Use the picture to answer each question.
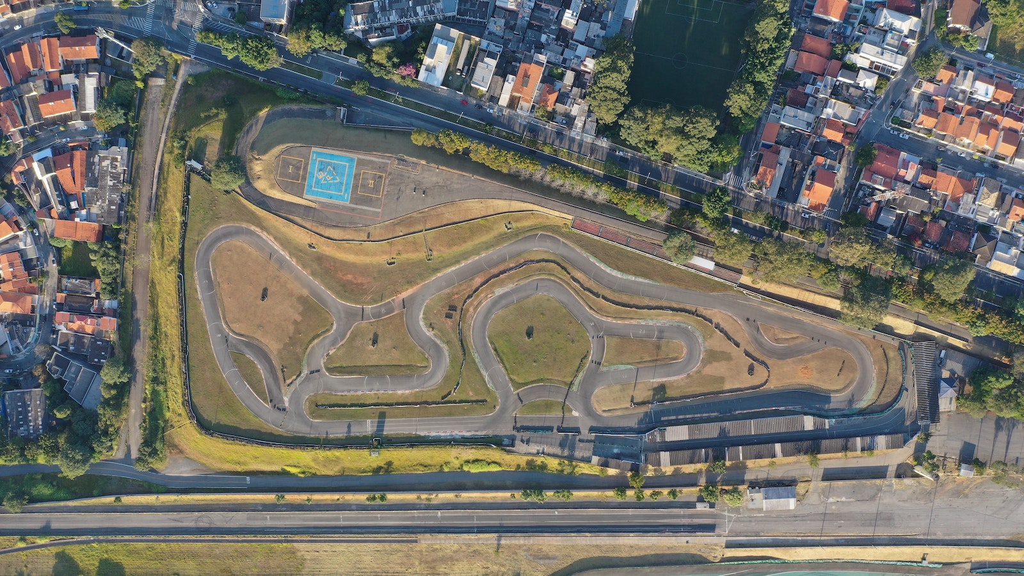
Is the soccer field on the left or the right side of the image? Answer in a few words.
right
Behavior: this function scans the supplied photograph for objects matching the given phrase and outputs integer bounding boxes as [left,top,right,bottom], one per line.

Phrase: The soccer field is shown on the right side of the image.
[629,0,757,125]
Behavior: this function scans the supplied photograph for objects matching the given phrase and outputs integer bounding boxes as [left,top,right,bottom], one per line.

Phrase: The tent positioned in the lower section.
[939,376,960,398]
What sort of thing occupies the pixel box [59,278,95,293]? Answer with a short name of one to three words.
house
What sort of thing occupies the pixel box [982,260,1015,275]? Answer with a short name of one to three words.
house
